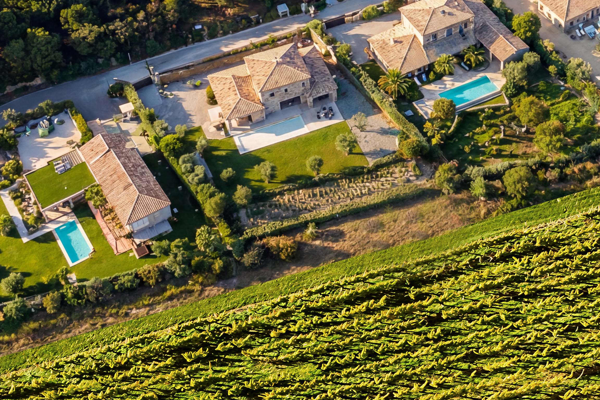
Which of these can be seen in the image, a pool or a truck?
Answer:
pool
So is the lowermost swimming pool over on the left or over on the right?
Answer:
left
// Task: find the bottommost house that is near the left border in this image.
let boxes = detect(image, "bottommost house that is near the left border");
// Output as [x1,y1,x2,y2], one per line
[23,129,172,236]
